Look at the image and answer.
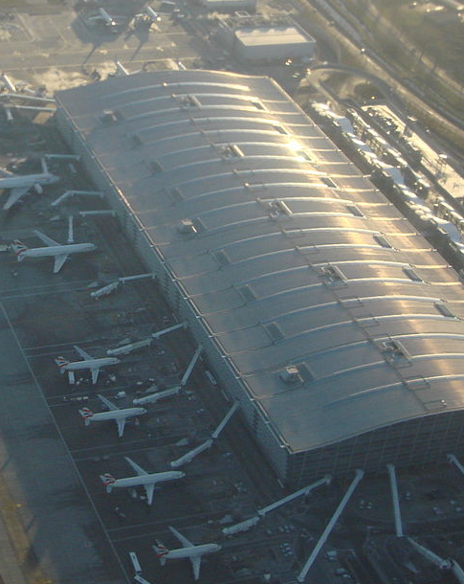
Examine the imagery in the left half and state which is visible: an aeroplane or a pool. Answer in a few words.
aeroplane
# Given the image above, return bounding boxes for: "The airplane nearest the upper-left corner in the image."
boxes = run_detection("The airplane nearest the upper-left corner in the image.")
[0,75,32,95]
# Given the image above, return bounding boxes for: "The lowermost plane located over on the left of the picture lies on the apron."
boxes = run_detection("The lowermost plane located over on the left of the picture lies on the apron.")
[151,529,220,580]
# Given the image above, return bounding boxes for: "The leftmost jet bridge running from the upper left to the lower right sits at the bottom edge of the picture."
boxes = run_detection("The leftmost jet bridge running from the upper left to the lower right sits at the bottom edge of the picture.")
[387,463,452,573]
